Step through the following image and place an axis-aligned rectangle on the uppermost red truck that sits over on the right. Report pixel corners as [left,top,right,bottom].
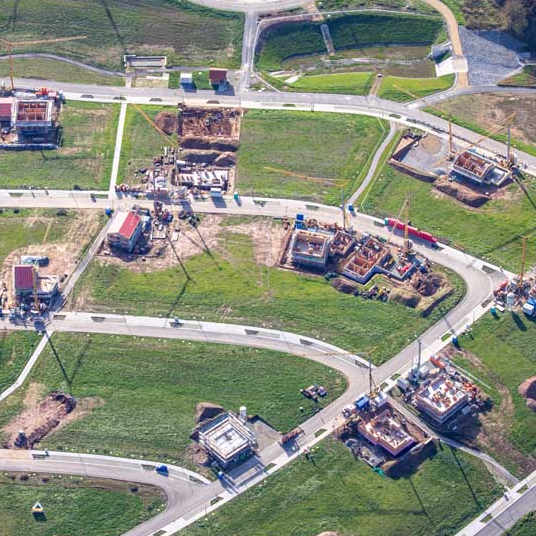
[386,217,438,246]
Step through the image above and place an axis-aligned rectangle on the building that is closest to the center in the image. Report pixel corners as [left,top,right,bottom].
[292,230,331,267]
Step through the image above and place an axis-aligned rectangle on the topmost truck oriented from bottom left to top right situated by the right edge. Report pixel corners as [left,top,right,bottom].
[491,272,513,293]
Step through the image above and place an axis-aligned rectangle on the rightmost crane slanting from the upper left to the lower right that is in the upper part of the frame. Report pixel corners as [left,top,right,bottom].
[265,166,361,238]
